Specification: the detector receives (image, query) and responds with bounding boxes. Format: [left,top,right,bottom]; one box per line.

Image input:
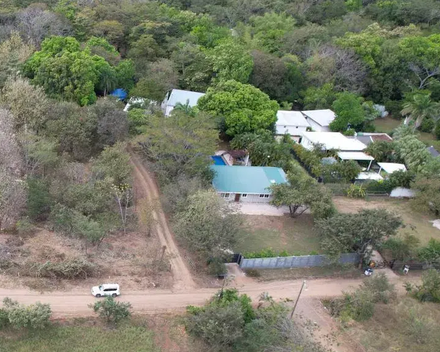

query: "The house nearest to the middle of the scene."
[203,163,287,204]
